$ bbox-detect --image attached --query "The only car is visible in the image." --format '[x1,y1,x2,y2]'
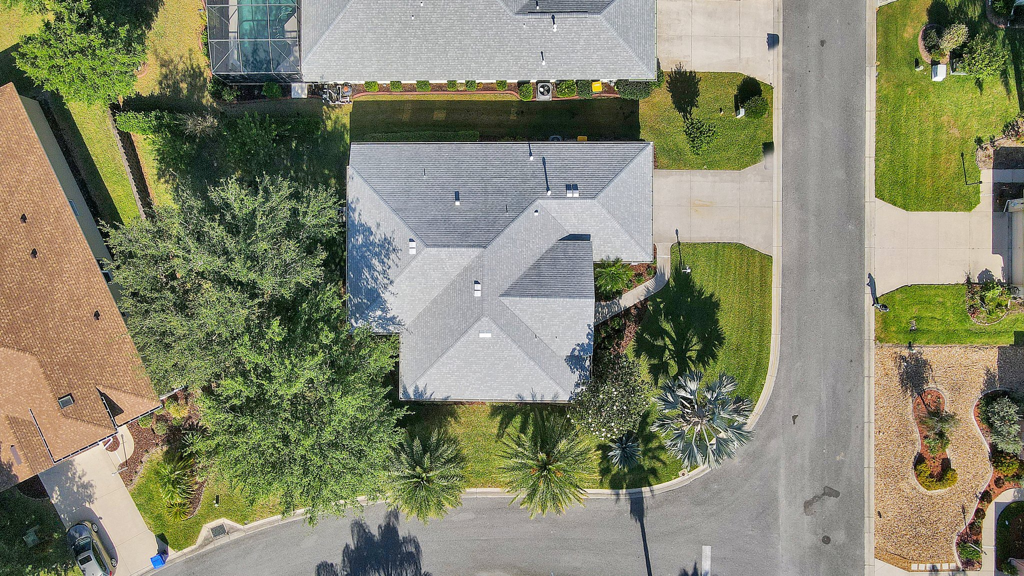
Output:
[73,517,120,576]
